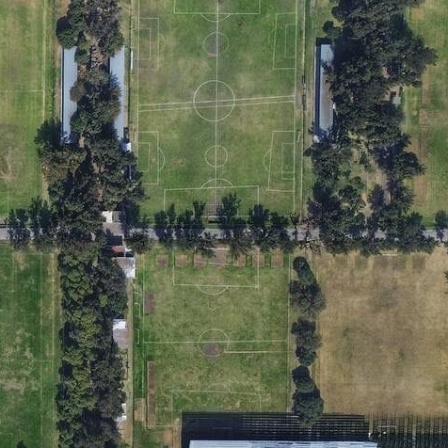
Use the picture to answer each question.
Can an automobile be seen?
No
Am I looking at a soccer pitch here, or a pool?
soccer pitch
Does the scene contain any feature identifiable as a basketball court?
No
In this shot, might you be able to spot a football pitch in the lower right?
Yes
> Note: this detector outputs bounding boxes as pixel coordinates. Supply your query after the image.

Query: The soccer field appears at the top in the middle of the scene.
[127,0,308,225]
